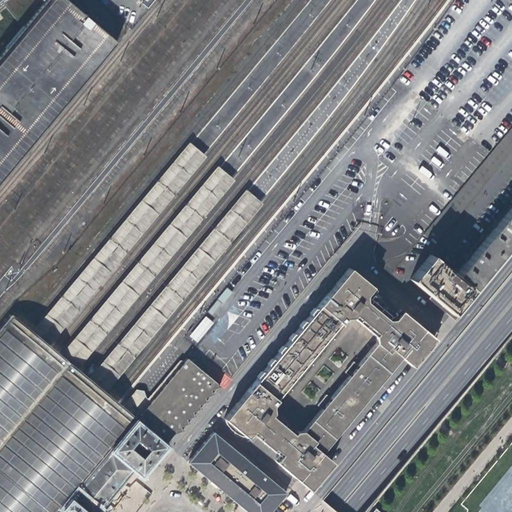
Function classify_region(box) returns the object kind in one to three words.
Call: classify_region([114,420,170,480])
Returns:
building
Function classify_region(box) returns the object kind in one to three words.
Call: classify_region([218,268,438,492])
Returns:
building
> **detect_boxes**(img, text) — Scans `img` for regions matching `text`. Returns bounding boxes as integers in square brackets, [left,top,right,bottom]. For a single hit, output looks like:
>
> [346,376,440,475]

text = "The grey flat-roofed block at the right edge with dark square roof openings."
[458,206,512,290]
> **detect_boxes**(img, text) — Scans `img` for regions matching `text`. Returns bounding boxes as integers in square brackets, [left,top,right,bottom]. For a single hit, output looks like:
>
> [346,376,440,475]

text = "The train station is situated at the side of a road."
[0,314,136,512]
